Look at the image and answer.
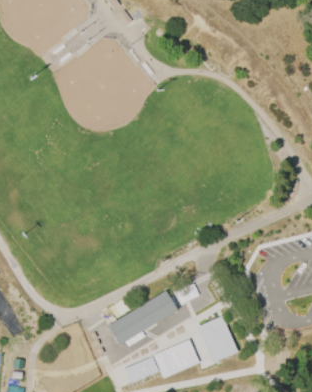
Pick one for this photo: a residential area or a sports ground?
sports ground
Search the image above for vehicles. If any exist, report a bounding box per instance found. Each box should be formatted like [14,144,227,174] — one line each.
[303,238,312,246]
[258,248,268,257]
[298,262,308,274]
[297,239,307,248]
